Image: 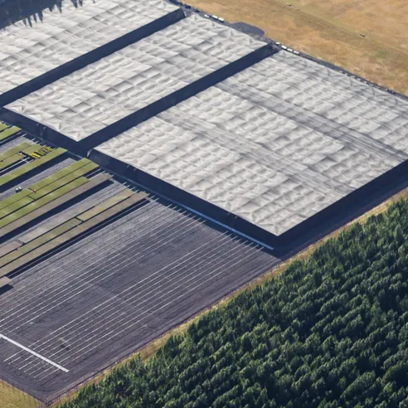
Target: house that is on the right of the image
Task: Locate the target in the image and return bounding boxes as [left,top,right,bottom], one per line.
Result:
[91,50,408,246]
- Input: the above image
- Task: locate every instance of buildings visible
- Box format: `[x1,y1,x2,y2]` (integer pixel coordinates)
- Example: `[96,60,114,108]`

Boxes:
[0,0,183,105]
[91,50,408,246]
[2,14,268,150]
